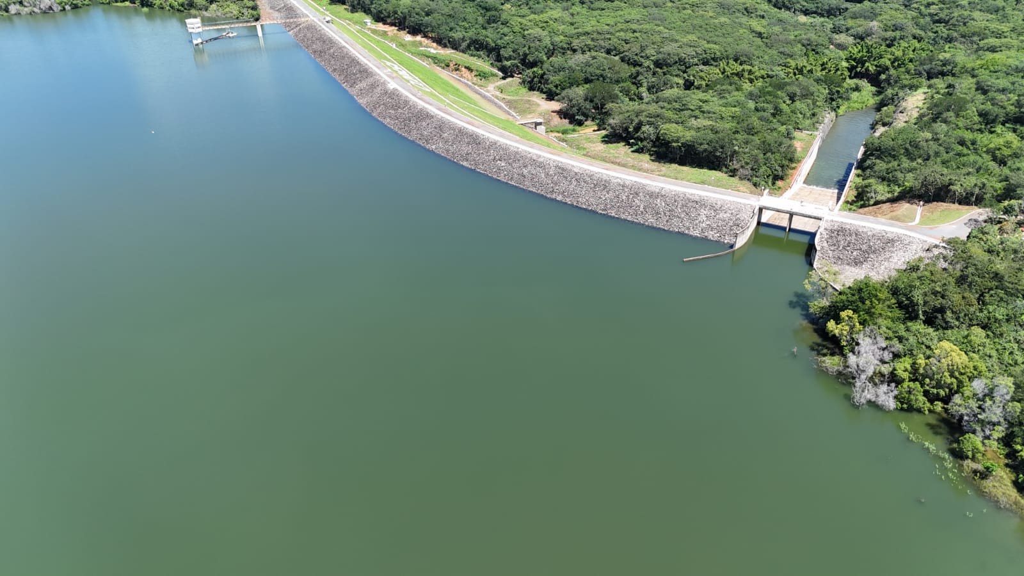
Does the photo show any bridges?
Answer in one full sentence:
Yes, a bridge can be made out from above.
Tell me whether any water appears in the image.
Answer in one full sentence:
Yes, the picture does contain water.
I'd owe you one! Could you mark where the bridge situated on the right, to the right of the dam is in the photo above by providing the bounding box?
[757,192,833,235]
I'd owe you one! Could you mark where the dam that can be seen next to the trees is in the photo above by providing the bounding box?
[257,0,760,245]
